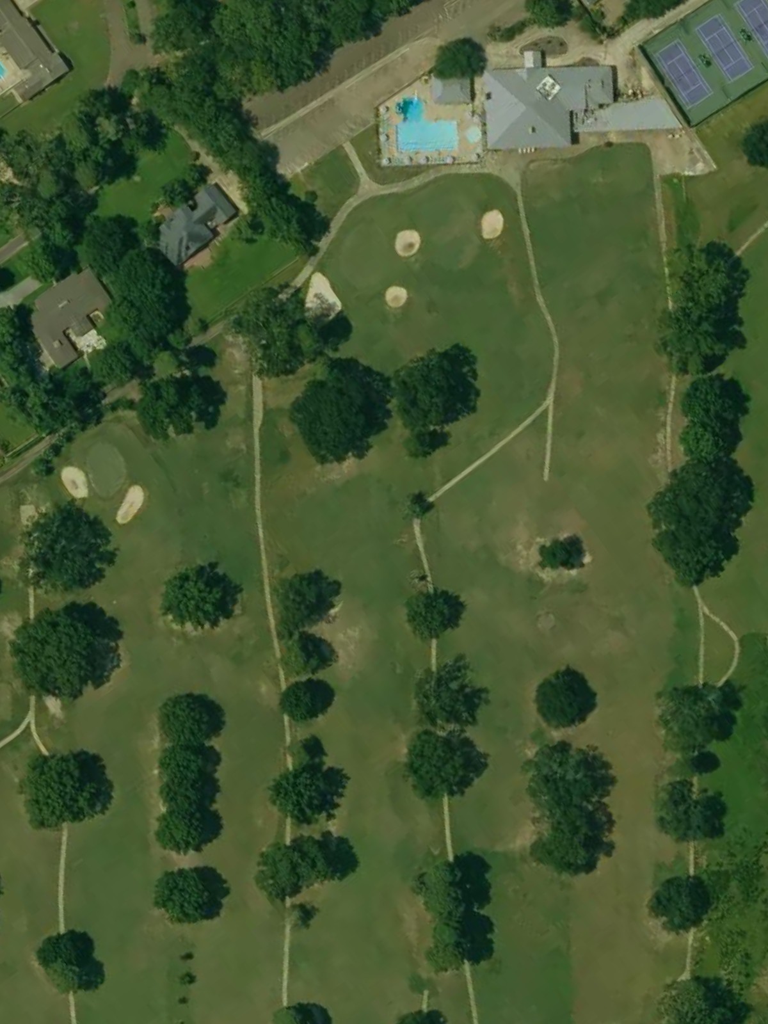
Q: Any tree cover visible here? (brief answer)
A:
Yes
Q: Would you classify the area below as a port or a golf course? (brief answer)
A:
golf course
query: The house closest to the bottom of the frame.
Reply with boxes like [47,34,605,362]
[33,265,111,370]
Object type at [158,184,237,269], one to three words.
house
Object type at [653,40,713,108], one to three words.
tennis court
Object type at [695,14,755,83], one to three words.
tennis court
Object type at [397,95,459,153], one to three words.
swimming pool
